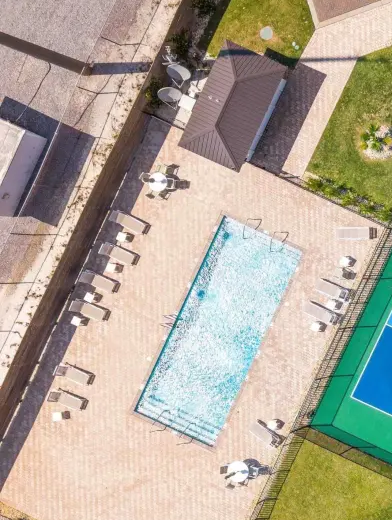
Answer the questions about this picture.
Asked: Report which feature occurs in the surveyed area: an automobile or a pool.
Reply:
pool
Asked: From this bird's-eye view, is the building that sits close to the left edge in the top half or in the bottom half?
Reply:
top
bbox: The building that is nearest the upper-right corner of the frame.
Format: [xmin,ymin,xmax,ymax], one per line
[178,39,298,172]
